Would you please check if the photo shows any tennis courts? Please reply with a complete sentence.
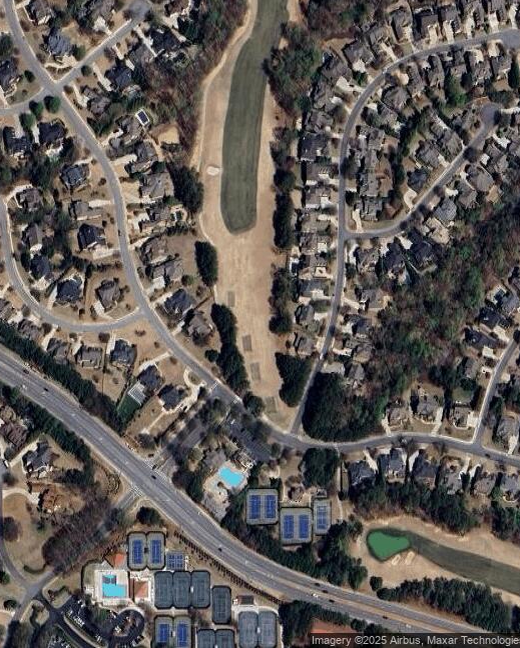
Yes, there's a tennis court down there.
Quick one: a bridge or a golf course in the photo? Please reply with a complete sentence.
Of the two, only a golf course appears.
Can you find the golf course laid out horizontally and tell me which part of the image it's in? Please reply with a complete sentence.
Look in the bottom right portion of the view to spot the golf course laid out horizontally.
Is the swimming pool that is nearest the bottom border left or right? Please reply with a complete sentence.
The swimming pool that is nearest the bottom border sits on the left side.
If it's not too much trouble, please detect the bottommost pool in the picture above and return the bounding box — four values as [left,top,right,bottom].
[96,570,129,605]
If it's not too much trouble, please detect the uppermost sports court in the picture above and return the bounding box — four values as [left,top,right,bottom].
[118,387,147,422]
